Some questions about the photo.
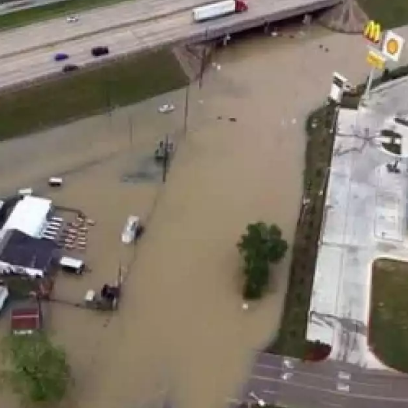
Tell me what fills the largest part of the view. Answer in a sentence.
The scene is dominated by water.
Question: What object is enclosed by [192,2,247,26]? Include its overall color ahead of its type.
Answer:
white truck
